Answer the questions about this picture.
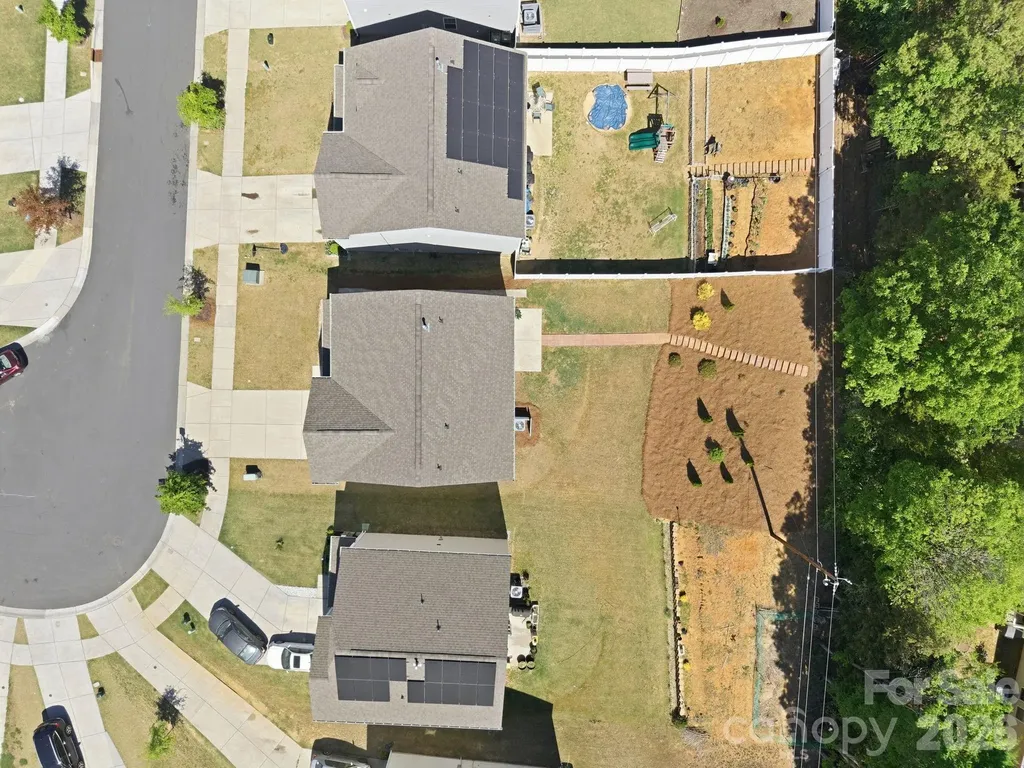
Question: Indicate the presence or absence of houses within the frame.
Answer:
Yes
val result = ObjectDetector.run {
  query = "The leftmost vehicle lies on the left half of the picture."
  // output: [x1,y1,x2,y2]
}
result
[0,349,30,388]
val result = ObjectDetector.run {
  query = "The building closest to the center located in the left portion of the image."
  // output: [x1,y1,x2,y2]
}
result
[301,290,516,487]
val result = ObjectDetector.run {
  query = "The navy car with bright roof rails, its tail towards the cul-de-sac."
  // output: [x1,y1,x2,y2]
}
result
[28,720,84,768]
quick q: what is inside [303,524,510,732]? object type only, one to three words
house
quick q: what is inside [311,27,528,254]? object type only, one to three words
house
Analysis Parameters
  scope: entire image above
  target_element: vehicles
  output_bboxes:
[0,349,30,388]
[28,720,84,768]
[267,639,309,675]
[207,599,269,667]
[312,750,385,768]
